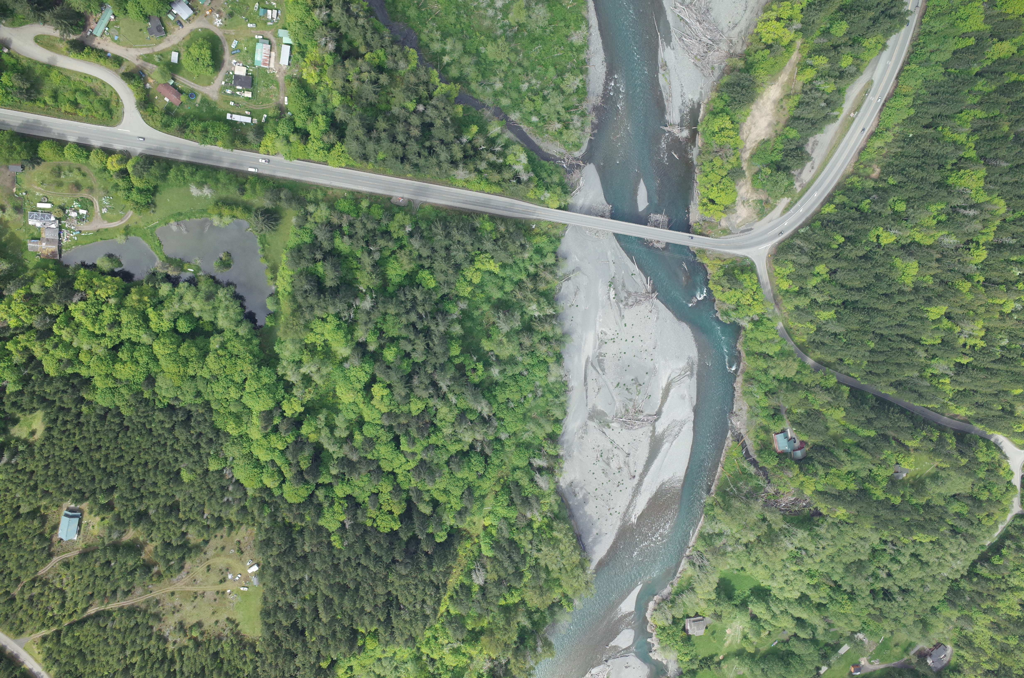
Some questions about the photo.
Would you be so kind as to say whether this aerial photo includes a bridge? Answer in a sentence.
Yes, a bridge can be made out from above.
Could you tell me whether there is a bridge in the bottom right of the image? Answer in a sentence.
No, no bridge is visible in the bottom right of the image.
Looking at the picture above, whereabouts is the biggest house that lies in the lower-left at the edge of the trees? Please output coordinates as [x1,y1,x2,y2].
[59,516,82,538]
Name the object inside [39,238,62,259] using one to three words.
house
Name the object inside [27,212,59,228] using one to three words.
house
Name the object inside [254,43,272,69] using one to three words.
barn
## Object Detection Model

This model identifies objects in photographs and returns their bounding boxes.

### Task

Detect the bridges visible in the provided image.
[564,211,695,248]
